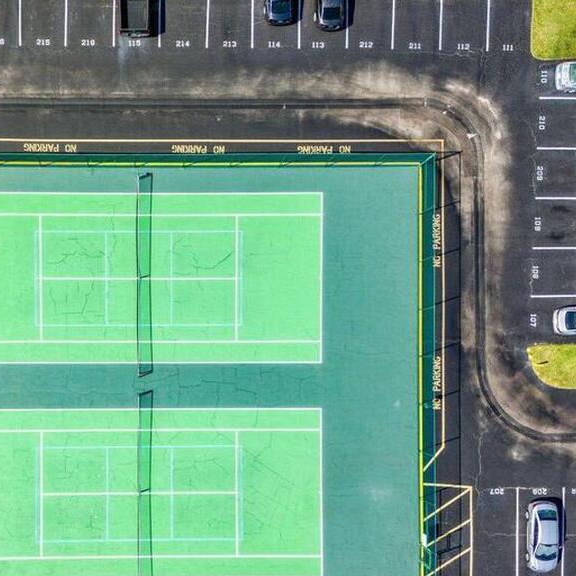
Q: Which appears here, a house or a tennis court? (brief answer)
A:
tennis court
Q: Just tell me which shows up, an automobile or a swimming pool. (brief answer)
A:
automobile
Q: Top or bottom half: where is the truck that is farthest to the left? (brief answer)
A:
top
